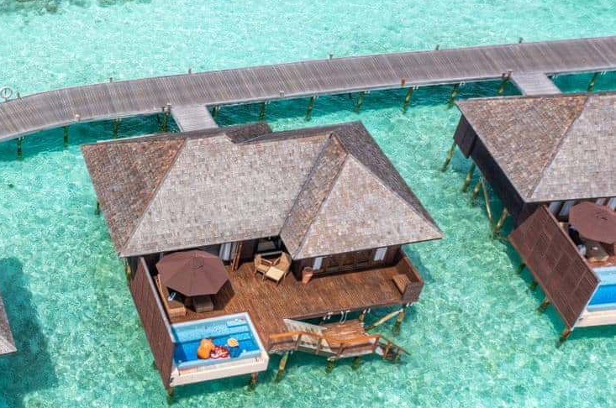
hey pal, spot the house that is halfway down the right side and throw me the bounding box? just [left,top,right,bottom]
[449,90,616,344]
